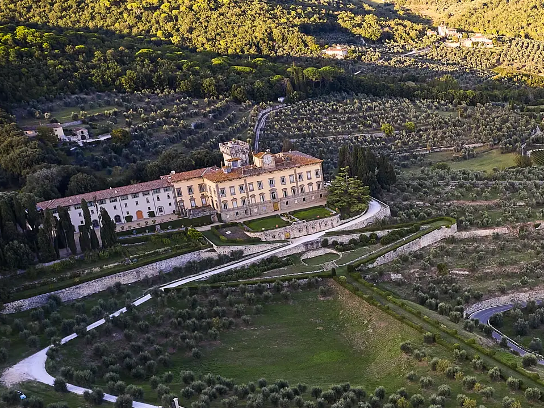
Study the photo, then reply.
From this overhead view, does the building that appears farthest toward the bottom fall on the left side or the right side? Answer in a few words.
left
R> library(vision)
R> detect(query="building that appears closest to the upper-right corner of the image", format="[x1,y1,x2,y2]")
[461,33,495,49]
